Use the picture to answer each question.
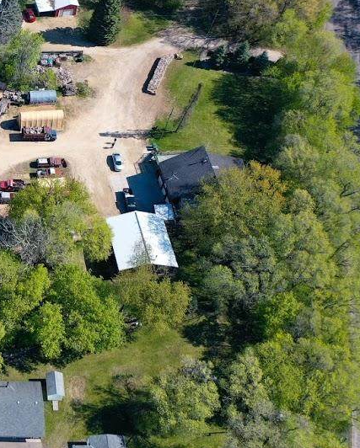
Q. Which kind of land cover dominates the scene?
trees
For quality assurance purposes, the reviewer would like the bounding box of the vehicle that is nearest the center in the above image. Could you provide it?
[123,185,135,210]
